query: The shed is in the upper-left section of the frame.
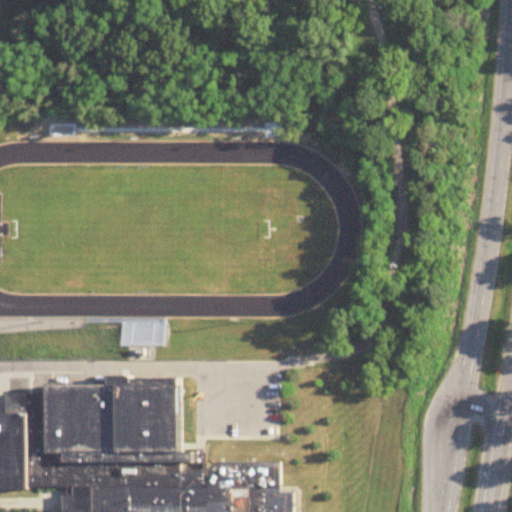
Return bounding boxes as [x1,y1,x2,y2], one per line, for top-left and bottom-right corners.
[52,124,79,138]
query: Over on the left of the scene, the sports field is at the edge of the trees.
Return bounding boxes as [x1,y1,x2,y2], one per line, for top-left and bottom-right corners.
[0,164,340,294]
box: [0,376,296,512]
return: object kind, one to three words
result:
building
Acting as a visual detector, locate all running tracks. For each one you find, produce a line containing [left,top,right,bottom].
[0,141,362,318]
